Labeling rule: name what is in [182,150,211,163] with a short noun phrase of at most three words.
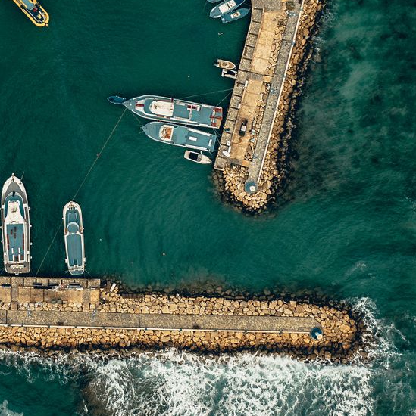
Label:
boat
